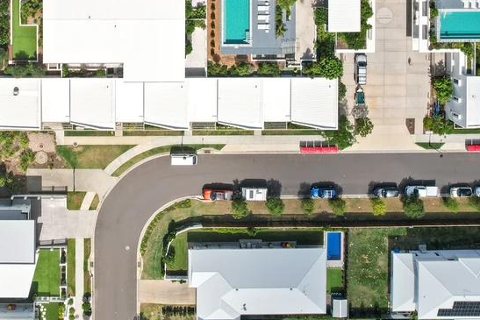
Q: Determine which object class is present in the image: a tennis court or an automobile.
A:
automobile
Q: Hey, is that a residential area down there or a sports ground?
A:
residential area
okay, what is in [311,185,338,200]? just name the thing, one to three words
car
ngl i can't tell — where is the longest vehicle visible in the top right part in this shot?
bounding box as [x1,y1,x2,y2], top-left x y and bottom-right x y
[353,54,369,86]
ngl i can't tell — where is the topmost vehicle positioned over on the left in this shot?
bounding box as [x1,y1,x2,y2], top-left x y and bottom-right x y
[169,152,198,168]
